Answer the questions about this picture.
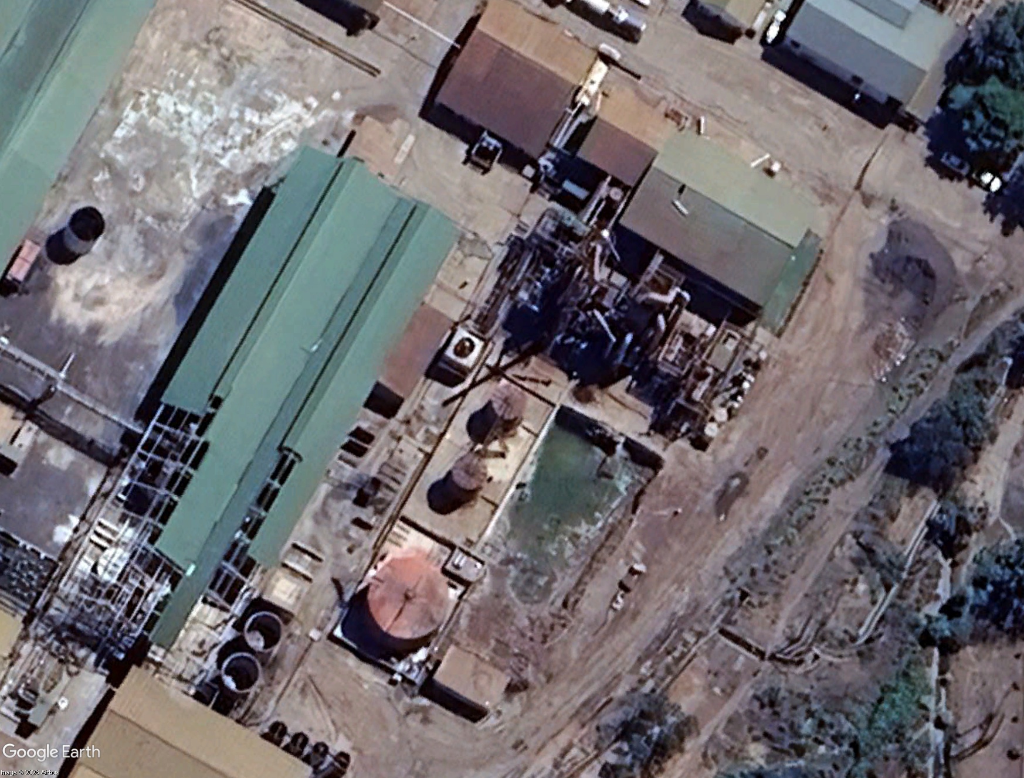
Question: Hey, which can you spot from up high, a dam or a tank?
tank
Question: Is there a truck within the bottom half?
No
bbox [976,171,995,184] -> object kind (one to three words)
vehicle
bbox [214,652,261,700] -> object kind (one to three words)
storage tank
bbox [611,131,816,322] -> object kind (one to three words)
house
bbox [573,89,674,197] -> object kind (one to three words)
building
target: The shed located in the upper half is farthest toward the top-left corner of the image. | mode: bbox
[0,0,165,261]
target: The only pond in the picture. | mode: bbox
[493,403,666,571]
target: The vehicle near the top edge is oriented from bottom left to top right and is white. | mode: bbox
[762,10,789,45]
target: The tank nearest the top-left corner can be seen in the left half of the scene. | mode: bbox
[63,207,105,253]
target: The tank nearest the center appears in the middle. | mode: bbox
[481,381,528,436]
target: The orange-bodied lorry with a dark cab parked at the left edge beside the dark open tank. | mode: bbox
[0,240,42,292]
